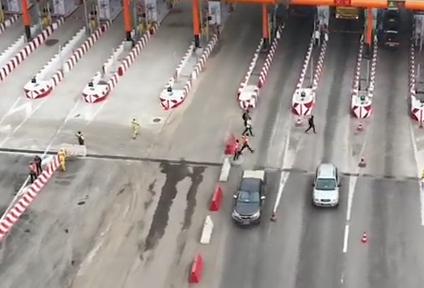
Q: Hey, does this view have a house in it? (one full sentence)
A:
No, there is no house in the image.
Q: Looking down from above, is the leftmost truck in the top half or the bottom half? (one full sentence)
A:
You can find the leftmost truck in the bottom half.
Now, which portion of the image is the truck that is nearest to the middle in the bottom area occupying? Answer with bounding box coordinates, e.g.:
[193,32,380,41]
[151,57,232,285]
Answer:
[236,162,273,217]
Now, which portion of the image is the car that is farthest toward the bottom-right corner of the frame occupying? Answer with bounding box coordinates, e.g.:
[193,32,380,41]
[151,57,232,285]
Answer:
[312,155,344,203]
